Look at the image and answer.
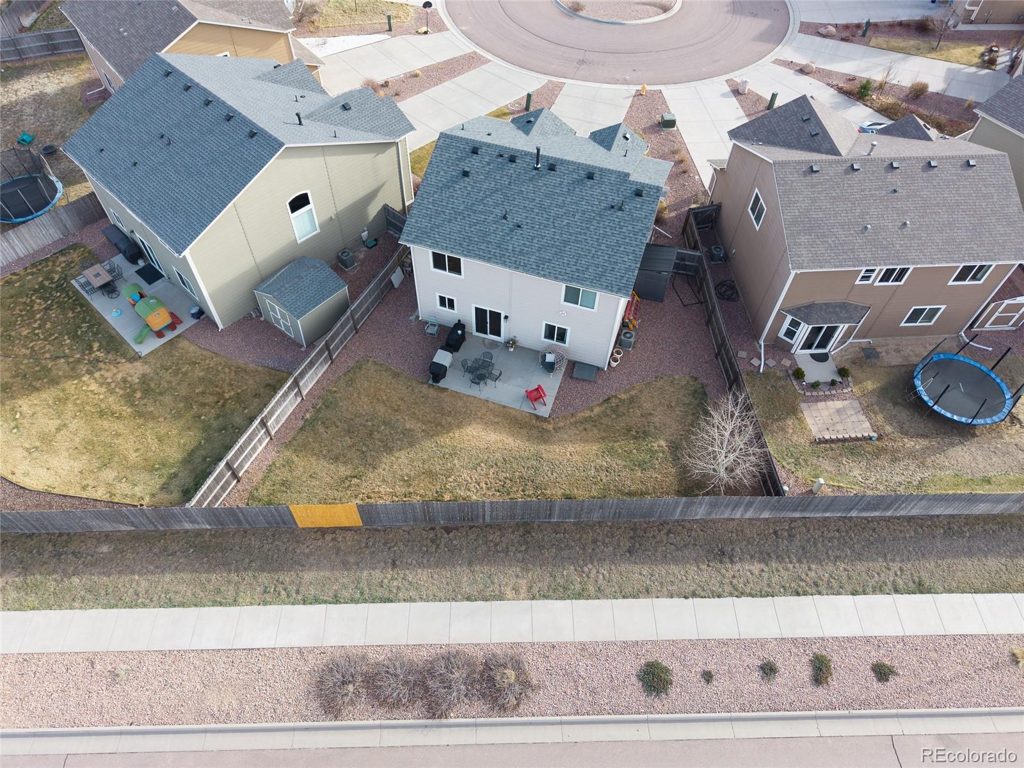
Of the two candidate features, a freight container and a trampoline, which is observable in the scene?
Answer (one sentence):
The one in the frame is a trampoline.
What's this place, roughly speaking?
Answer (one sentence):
It's a residential area.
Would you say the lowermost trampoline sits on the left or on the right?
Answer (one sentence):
The lowermost trampoline appears in the right half of the scene.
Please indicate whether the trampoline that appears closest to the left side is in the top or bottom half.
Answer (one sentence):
The trampoline that appears closest to the left side sits in the top half of the picture.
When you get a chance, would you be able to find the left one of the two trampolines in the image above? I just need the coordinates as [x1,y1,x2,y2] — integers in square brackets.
[0,149,67,229]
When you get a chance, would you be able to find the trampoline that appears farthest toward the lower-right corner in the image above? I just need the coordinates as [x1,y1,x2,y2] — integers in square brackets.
[904,333,1024,436]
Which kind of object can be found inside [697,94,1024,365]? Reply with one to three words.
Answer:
house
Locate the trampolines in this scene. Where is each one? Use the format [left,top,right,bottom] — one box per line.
[904,333,1024,436]
[0,149,67,229]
